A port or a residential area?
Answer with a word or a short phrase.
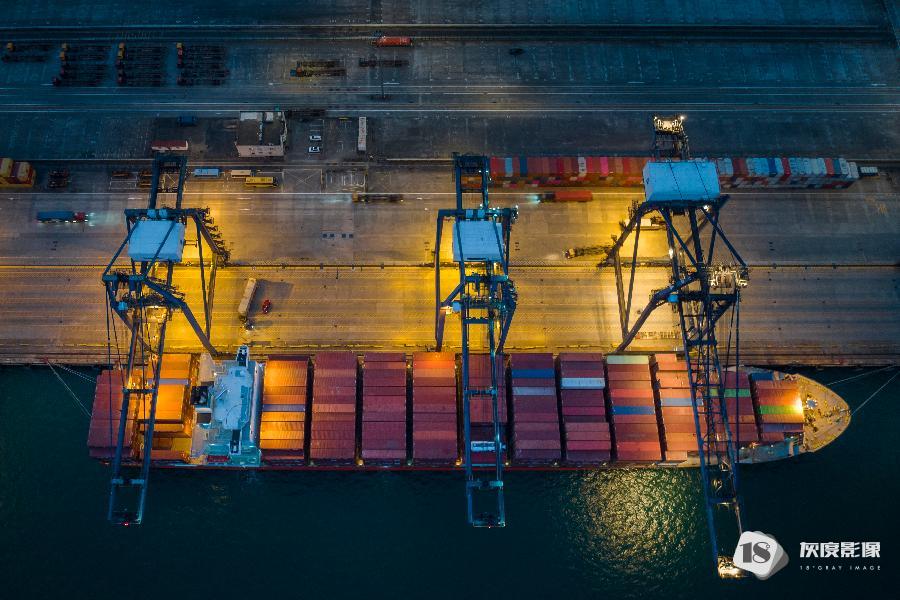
port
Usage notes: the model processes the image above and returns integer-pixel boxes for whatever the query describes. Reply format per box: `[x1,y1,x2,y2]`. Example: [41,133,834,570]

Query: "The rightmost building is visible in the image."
[234,112,291,157]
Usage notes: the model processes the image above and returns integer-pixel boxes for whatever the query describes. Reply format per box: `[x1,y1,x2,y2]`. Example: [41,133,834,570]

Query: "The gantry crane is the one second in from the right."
[425,156,528,523]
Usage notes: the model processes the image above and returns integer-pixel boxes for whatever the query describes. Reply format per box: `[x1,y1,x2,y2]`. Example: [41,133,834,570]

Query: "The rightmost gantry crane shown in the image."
[596,117,757,578]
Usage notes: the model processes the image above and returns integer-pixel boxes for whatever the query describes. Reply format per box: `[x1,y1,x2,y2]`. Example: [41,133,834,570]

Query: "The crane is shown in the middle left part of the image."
[100,155,235,522]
